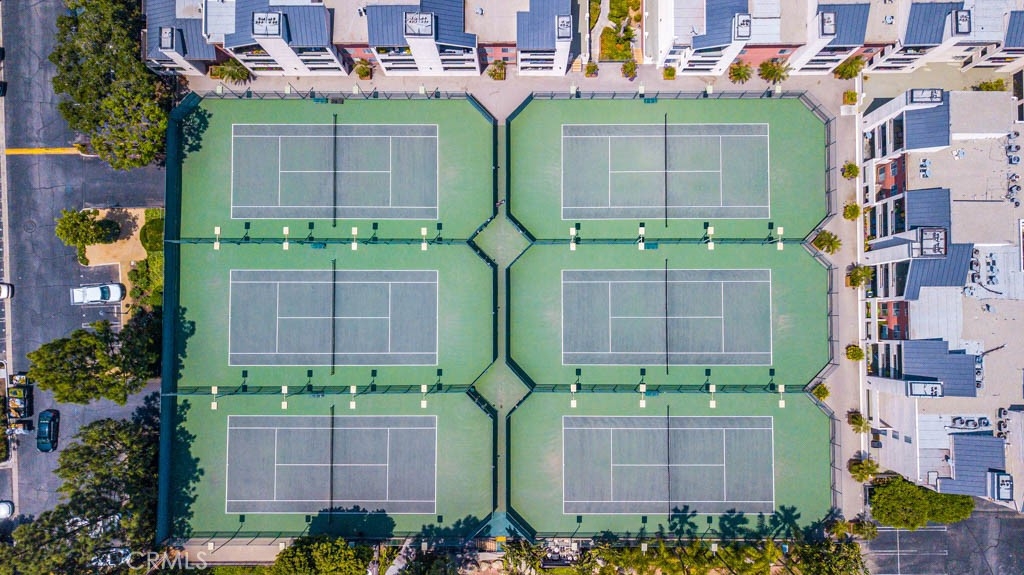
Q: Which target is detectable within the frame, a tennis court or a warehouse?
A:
tennis court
